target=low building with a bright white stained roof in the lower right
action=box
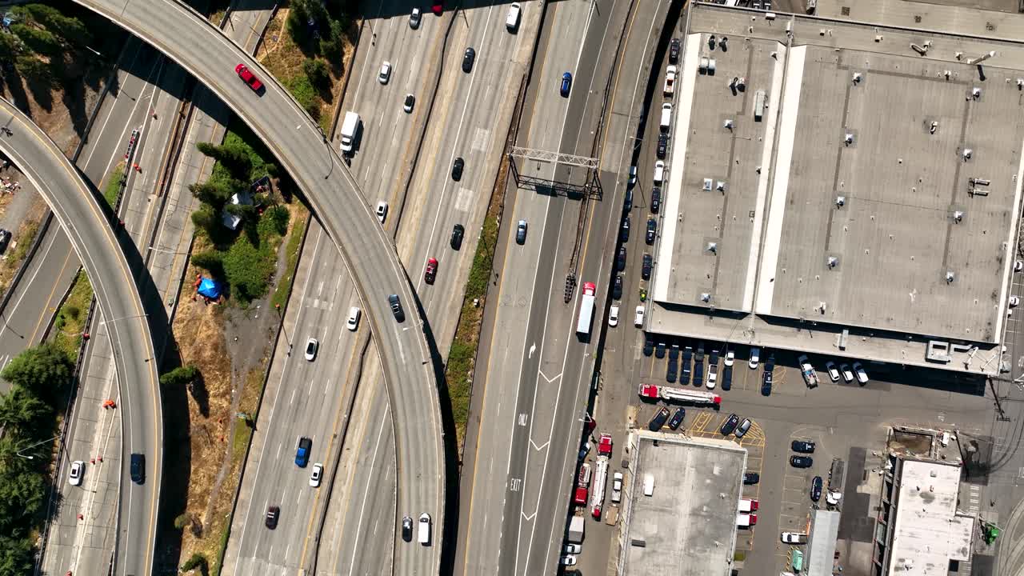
[869,455,974,576]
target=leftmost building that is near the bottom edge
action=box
[616,430,748,576]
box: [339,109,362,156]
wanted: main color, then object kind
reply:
white truck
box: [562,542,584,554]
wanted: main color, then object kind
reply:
gray vehicle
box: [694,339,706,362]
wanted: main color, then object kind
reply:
black vehicle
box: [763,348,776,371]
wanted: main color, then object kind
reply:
black vehicle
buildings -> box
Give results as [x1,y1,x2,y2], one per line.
[869,455,974,576]
[640,1,1024,375]
[616,430,748,576]
[797,504,840,576]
